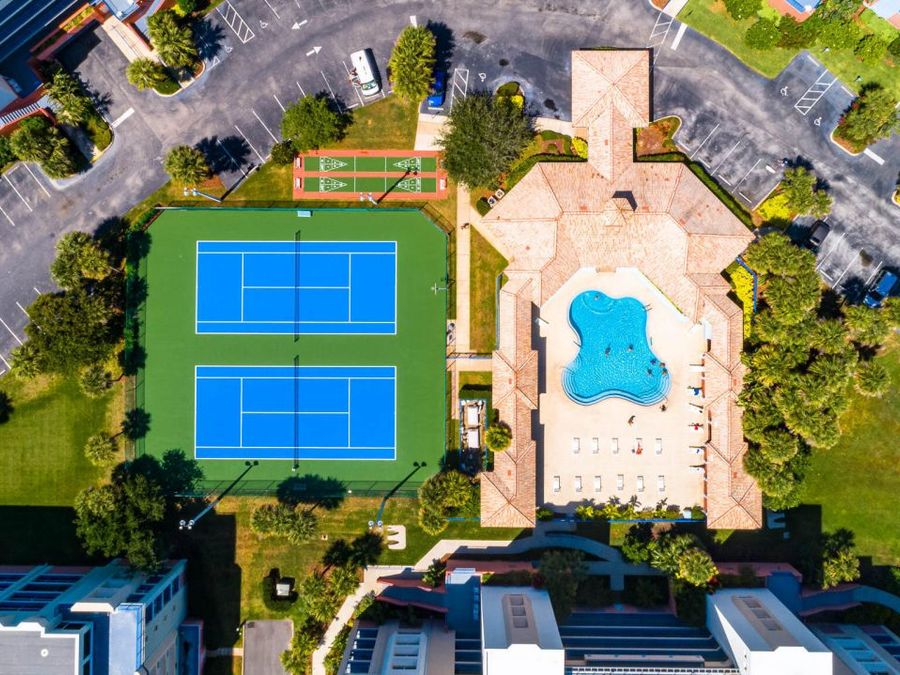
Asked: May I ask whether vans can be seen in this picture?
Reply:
Yes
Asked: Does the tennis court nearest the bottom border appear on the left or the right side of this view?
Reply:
left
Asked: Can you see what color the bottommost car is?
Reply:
blue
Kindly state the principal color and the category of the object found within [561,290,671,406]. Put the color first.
blue swimming pool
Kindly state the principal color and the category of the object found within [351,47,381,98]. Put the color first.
white van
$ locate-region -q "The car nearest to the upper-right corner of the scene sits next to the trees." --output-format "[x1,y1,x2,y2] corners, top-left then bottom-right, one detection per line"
[805,215,840,253]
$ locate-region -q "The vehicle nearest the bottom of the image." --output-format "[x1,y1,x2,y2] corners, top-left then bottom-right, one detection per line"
[864,267,900,307]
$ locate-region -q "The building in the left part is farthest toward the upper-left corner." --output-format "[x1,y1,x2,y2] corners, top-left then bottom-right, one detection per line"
[0,0,149,117]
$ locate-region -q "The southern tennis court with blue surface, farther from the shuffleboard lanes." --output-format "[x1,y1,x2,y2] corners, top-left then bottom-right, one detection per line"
[135,349,447,489]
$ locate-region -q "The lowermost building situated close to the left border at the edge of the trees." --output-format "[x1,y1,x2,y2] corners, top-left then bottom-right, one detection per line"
[0,559,204,675]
